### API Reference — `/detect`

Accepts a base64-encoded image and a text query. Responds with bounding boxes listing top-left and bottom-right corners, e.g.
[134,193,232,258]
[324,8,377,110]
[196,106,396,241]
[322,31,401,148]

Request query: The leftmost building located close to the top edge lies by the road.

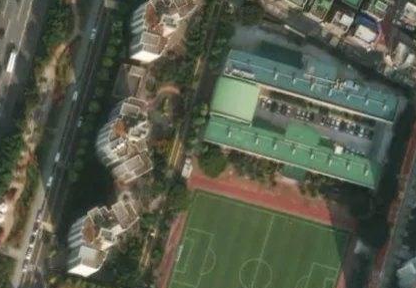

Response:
[128,0,198,64]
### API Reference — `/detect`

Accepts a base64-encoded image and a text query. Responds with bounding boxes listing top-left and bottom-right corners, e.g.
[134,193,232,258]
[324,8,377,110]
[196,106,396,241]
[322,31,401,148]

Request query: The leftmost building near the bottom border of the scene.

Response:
[67,200,140,275]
